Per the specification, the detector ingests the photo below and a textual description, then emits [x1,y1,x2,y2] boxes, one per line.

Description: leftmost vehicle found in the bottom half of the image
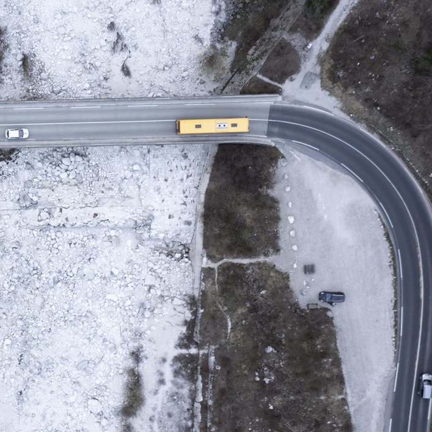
[316,291,345,306]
